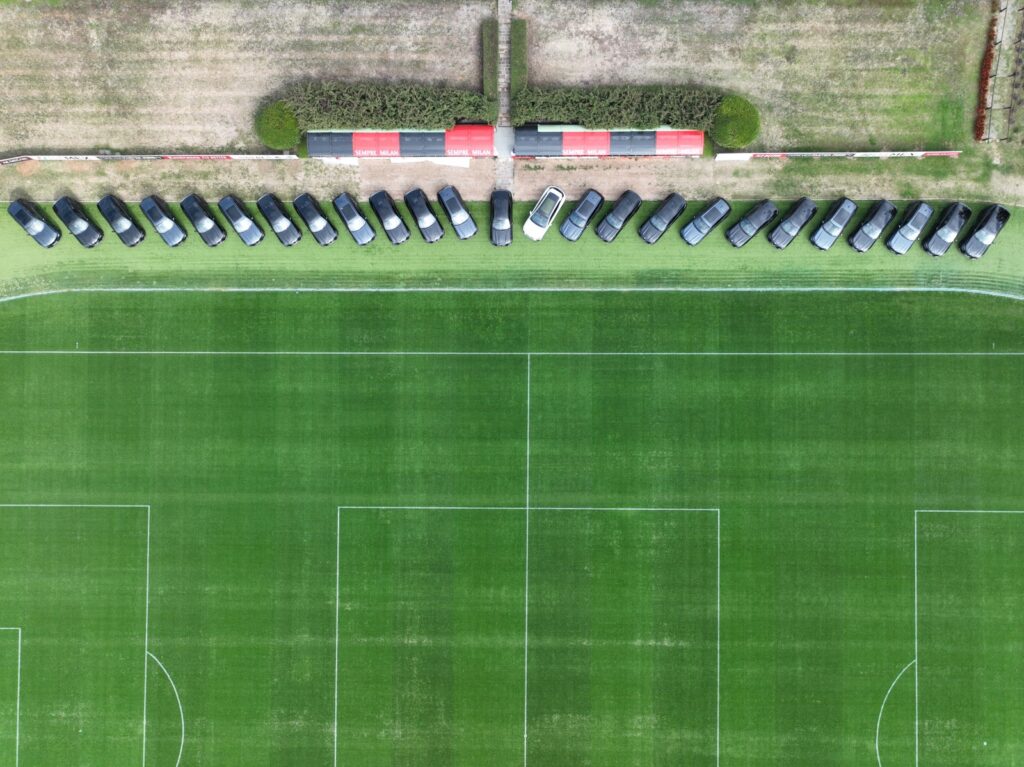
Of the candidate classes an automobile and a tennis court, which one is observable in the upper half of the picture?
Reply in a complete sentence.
It is an automobile that can be seen in the upper half of the picture.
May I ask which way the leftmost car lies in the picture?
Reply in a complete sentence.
The leftmost car runs at an angle in the image.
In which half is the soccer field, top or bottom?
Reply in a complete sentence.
The soccer field sits in the bottom half of the picture.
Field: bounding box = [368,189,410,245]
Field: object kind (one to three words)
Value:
car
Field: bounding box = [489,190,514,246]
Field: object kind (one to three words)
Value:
car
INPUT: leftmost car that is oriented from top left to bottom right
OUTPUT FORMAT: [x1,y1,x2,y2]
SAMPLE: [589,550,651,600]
[8,198,60,249]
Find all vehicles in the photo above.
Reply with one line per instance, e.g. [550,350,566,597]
[639,192,688,245]
[810,196,859,251]
[368,189,410,245]
[848,198,898,253]
[768,198,819,251]
[886,201,936,256]
[97,193,146,247]
[403,186,444,243]
[331,190,375,245]
[489,190,514,246]
[52,195,103,248]
[596,189,643,243]
[292,191,338,246]
[255,192,302,247]
[960,206,1011,261]
[436,183,477,240]
[681,197,733,248]
[559,187,604,243]
[922,202,972,258]
[179,192,226,247]
[8,198,60,249]
[523,186,566,243]
[217,192,265,246]
[138,194,187,247]
[726,198,779,249]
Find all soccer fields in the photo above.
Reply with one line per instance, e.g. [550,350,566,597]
[0,287,1024,767]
